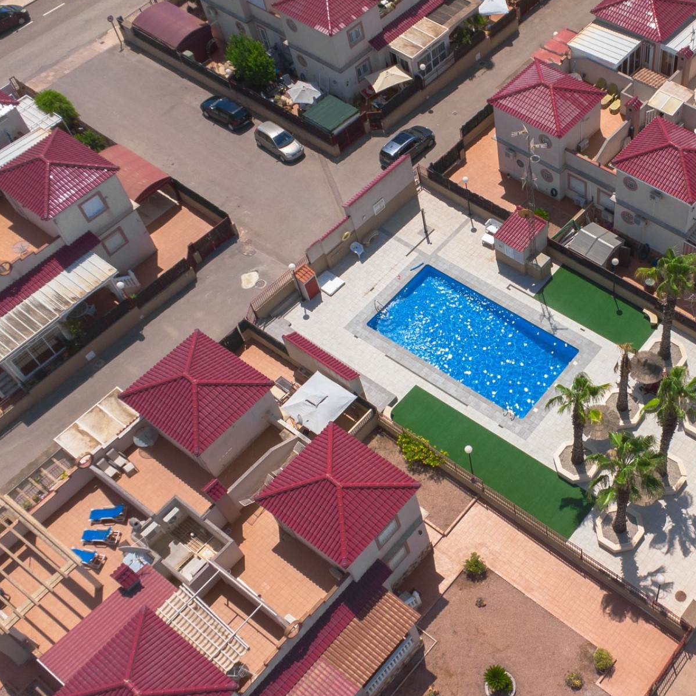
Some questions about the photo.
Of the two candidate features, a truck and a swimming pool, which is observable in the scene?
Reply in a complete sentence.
Of the two, only a swimming pool appears.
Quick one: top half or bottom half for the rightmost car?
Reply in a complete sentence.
The rightmost car is in the top half of the image.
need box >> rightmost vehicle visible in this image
[370,123,442,171]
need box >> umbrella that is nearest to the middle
[278,367,362,436]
